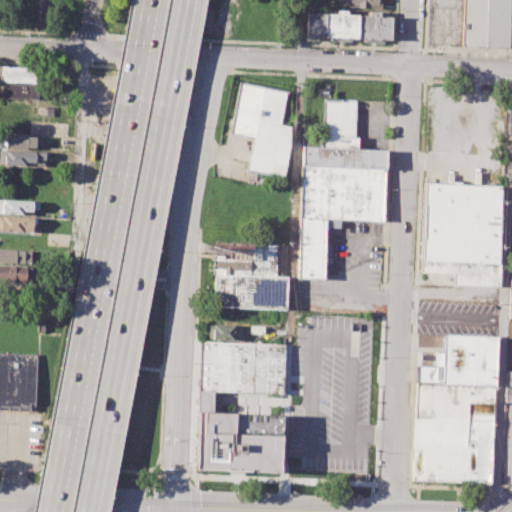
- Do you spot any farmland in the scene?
No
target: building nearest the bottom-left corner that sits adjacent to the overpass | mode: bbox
[0,354,40,410]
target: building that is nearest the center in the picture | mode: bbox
[215,256,290,310]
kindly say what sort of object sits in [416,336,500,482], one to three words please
building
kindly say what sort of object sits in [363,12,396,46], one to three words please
house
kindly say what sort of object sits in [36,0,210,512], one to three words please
overpass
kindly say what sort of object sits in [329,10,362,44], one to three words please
house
